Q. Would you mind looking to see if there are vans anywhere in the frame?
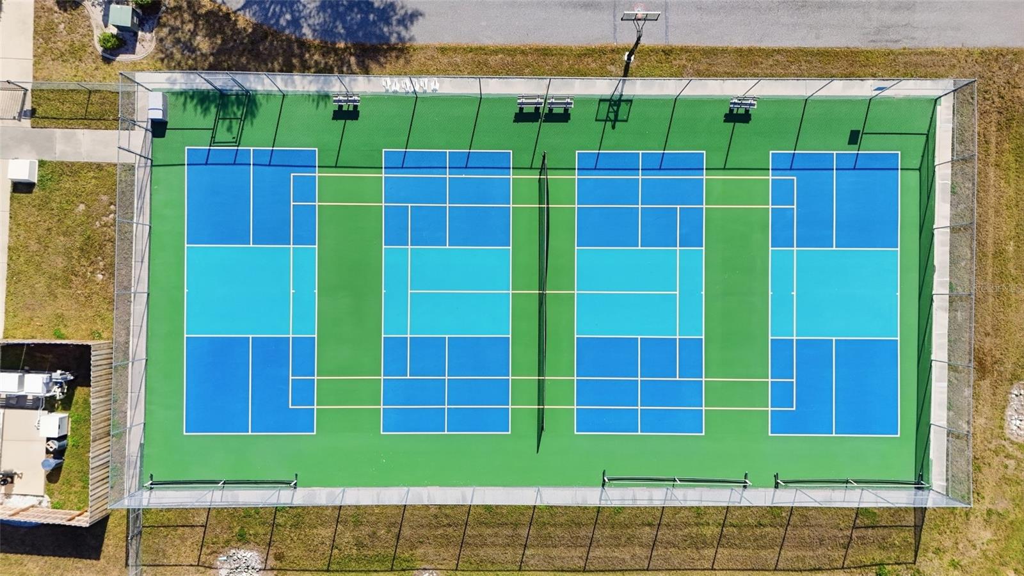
No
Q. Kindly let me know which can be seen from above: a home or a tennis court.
tennis court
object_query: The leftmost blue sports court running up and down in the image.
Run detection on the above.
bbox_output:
[184,147,317,434]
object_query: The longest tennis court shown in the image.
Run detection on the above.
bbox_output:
[144,89,936,488]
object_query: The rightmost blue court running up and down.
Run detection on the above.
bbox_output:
[770,151,900,436]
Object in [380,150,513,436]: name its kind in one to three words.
sports court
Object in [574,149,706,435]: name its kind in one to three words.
sports court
